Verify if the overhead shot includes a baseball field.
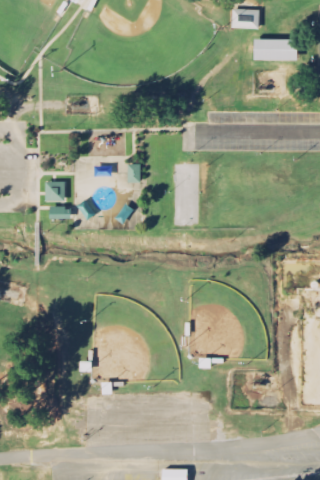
Yes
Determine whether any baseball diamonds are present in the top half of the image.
Yes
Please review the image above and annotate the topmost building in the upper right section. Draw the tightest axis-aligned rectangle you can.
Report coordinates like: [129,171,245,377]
[232,9,260,28]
